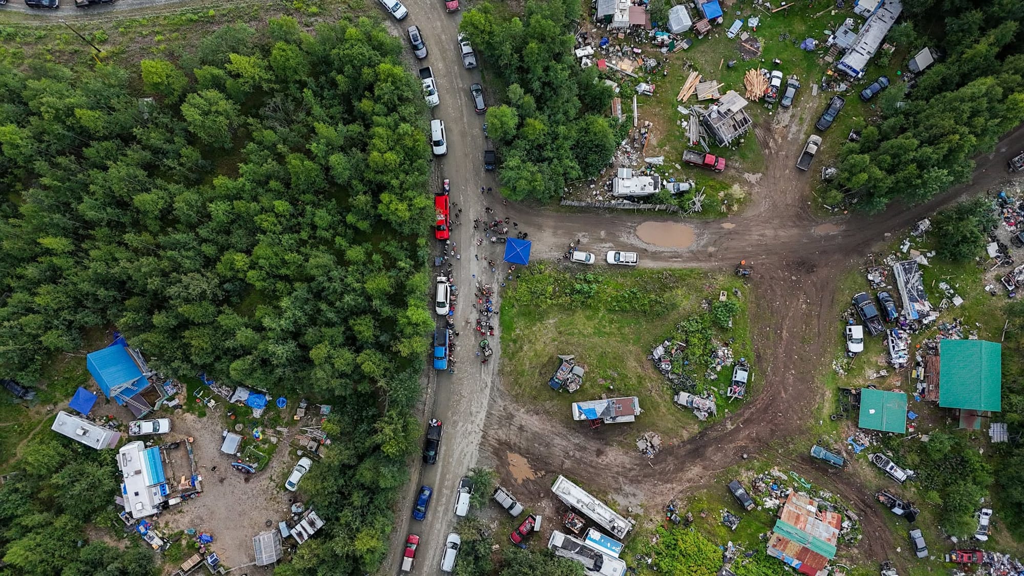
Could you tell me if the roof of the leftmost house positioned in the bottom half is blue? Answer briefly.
Yes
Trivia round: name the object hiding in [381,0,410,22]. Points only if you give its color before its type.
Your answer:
white car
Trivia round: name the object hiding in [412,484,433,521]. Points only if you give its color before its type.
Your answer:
blue car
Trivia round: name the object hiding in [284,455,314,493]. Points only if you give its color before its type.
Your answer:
white car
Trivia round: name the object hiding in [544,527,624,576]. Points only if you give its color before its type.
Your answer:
white camper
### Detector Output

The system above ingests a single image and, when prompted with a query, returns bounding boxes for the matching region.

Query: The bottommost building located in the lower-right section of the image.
[766,491,841,576]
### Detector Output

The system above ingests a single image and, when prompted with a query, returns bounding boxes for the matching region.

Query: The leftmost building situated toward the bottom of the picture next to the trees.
[82,342,159,404]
